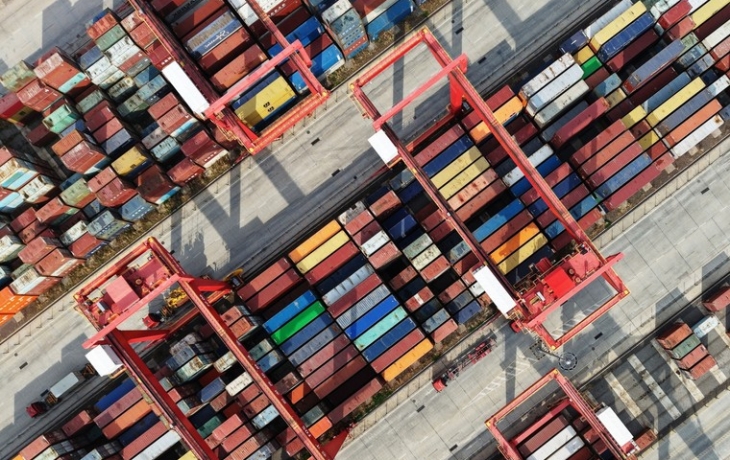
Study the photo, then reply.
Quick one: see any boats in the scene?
No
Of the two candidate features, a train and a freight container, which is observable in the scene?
freight container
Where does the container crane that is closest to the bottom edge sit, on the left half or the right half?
right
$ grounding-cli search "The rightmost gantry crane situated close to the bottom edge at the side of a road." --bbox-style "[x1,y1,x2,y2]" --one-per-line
[483,370,640,460]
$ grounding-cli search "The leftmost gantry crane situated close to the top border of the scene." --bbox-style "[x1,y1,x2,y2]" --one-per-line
[114,0,332,153]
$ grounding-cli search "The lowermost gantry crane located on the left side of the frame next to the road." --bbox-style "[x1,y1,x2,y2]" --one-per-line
[76,242,349,460]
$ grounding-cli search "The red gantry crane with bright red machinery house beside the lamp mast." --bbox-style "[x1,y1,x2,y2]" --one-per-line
[351,30,627,349]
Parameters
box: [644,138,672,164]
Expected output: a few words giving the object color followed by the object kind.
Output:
red shipping container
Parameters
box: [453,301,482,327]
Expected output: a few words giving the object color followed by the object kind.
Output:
blue shipping container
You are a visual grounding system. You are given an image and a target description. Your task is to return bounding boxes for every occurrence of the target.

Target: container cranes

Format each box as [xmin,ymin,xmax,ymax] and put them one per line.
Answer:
[351,30,627,349]
[76,242,349,460]
[114,0,332,153]
[483,370,640,460]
